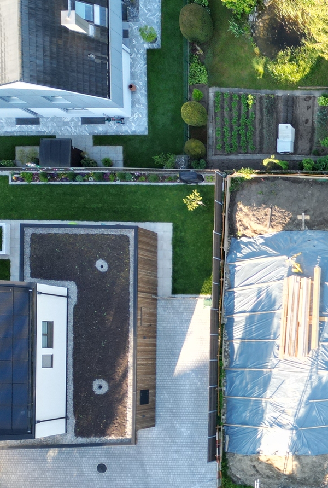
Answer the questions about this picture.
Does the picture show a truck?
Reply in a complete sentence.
No, the photo shows no truck.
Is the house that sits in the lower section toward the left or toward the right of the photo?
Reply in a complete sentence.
The house that sits in the lower section appears in the left half of the scene.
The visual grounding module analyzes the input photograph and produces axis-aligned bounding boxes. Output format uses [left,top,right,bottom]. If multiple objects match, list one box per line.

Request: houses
[0,0,130,117]
[0,225,159,442]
